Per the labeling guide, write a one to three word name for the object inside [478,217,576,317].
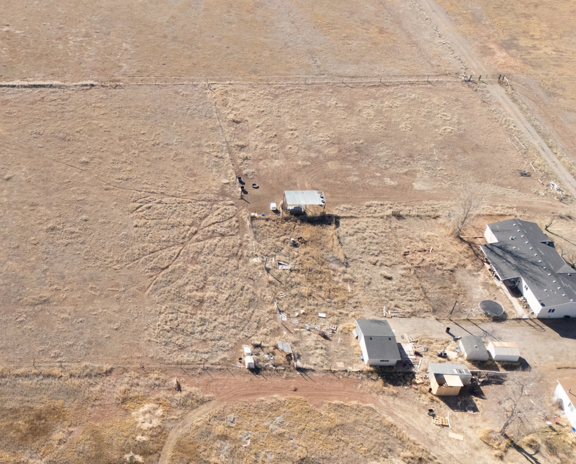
house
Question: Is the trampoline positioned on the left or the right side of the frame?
right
